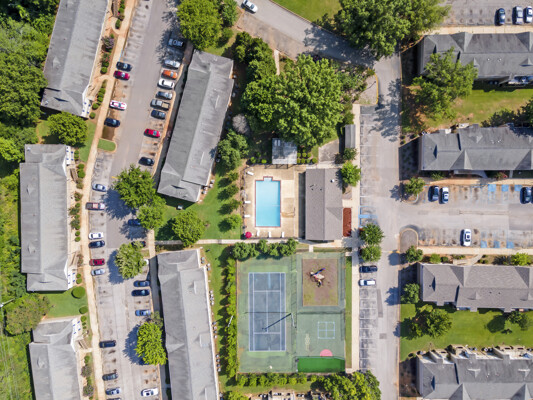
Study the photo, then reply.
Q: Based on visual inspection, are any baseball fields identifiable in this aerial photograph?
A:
No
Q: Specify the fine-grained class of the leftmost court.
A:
tennis court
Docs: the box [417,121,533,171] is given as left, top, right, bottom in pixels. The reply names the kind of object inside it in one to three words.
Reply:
building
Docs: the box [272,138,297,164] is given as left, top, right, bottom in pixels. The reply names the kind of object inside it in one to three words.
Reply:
building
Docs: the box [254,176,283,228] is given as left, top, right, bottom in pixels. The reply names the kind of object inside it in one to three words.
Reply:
swimming pool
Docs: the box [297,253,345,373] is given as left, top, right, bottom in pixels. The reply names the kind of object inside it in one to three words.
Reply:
sports court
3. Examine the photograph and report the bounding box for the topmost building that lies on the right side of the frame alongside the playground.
[306,168,344,240]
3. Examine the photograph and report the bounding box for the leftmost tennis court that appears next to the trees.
[237,254,297,373]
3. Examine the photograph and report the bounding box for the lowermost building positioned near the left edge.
[27,317,87,400]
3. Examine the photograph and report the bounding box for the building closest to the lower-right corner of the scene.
[416,342,533,400]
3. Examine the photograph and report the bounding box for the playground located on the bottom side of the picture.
[302,258,338,307]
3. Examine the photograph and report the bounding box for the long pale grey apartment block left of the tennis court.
[157,249,221,400]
